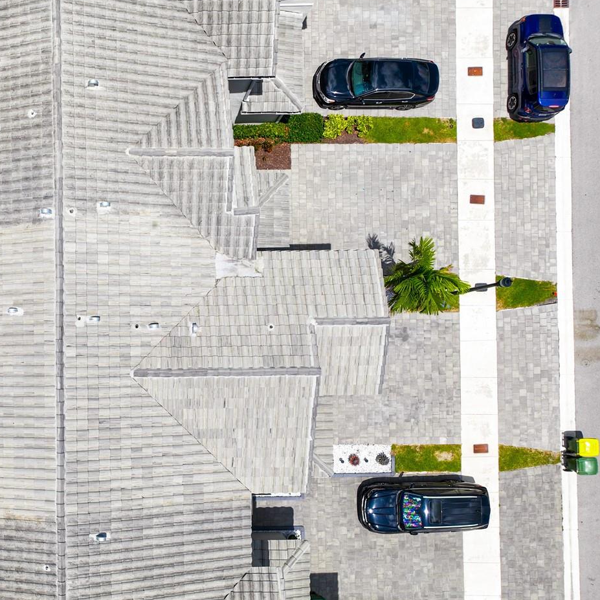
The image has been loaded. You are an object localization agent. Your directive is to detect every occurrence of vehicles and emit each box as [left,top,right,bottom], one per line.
[505,13,572,122]
[357,476,490,533]
[313,59,438,116]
